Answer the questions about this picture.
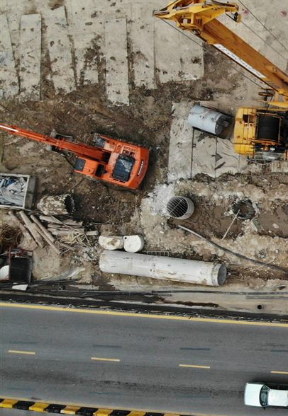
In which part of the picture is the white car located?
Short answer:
bottom right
